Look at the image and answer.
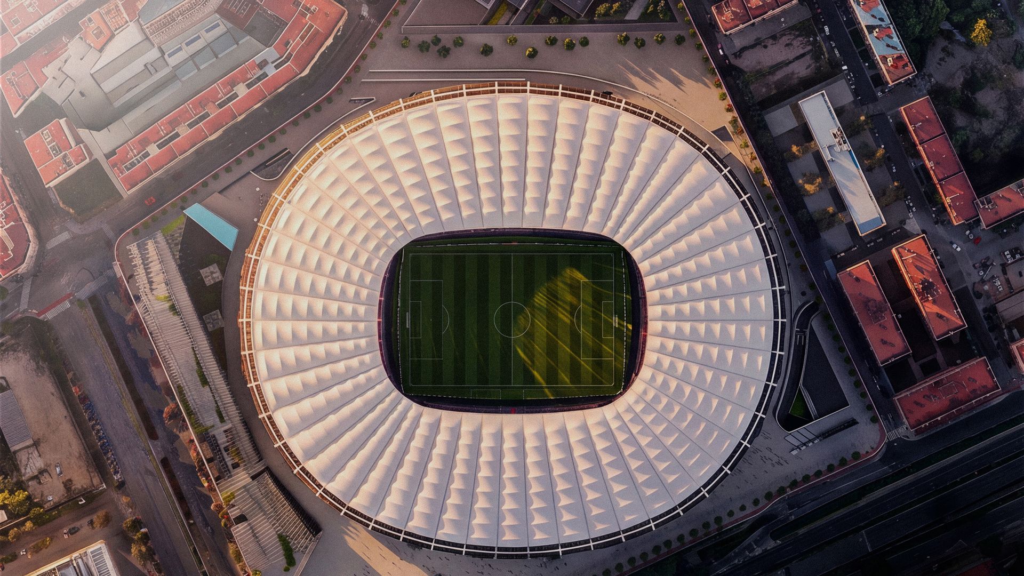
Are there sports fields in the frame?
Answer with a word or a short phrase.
Yes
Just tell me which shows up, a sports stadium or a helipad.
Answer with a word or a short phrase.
sports stadium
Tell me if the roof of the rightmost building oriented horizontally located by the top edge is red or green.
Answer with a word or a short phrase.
red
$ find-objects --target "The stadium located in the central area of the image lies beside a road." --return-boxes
[236,81,786,559]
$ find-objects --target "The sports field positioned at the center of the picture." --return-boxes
[394,237,632,399]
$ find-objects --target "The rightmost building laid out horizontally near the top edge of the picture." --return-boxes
[710,0,798,37]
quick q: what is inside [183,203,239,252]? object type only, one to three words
building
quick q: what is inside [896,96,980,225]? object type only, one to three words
building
